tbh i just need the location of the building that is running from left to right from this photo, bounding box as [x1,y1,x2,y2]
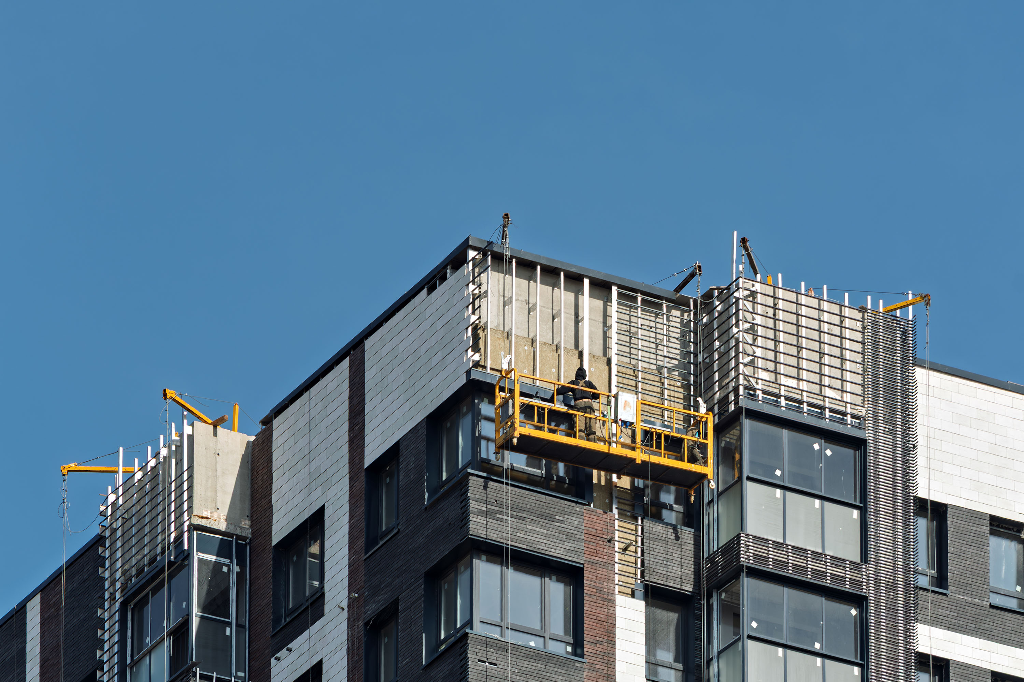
[0,234,1024,682]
